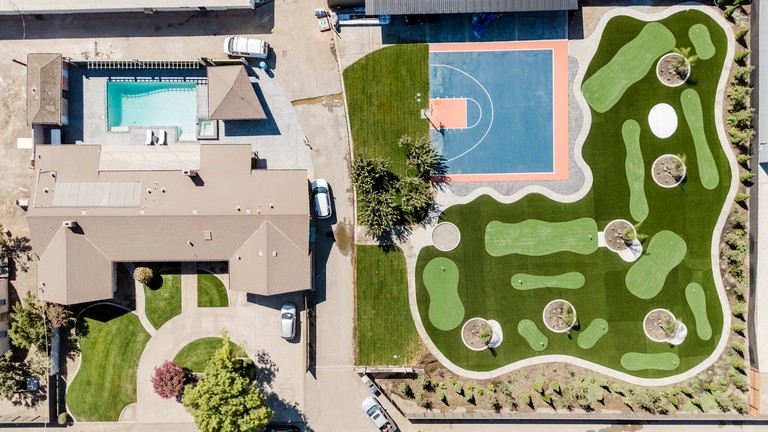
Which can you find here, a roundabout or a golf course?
golf course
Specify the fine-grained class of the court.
basketball court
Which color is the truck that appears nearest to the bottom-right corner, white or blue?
white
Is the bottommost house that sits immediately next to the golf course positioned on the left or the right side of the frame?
left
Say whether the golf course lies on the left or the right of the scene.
right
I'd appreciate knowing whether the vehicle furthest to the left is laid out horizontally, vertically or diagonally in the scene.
horizontally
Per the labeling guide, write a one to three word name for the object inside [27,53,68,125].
building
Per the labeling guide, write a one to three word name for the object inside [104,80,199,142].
swimming pool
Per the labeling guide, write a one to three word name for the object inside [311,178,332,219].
car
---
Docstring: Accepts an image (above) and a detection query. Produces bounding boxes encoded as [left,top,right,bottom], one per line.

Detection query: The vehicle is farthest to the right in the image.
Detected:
[364,393,405,432]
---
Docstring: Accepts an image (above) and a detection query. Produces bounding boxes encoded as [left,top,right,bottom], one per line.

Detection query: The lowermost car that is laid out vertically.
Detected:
[280,302,298,338]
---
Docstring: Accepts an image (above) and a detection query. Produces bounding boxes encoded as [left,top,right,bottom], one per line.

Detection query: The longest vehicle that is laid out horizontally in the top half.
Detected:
[224,36,272,60]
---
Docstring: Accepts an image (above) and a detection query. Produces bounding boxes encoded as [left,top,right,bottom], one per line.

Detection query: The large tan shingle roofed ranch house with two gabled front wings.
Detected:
[28,144,313,304]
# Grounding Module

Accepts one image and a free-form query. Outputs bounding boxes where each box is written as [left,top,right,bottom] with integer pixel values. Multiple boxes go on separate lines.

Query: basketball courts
[429,40,568,182]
